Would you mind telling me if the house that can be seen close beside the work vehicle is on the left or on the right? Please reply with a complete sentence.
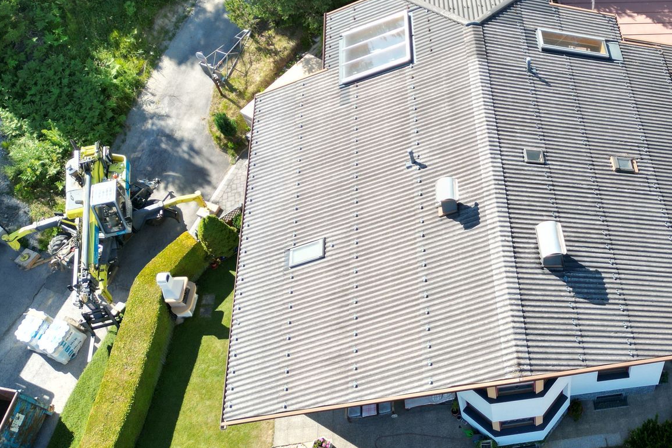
The house that can be seen close beside the work vehicle sits on the right side.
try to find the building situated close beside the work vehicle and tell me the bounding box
[215,0,672,448]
